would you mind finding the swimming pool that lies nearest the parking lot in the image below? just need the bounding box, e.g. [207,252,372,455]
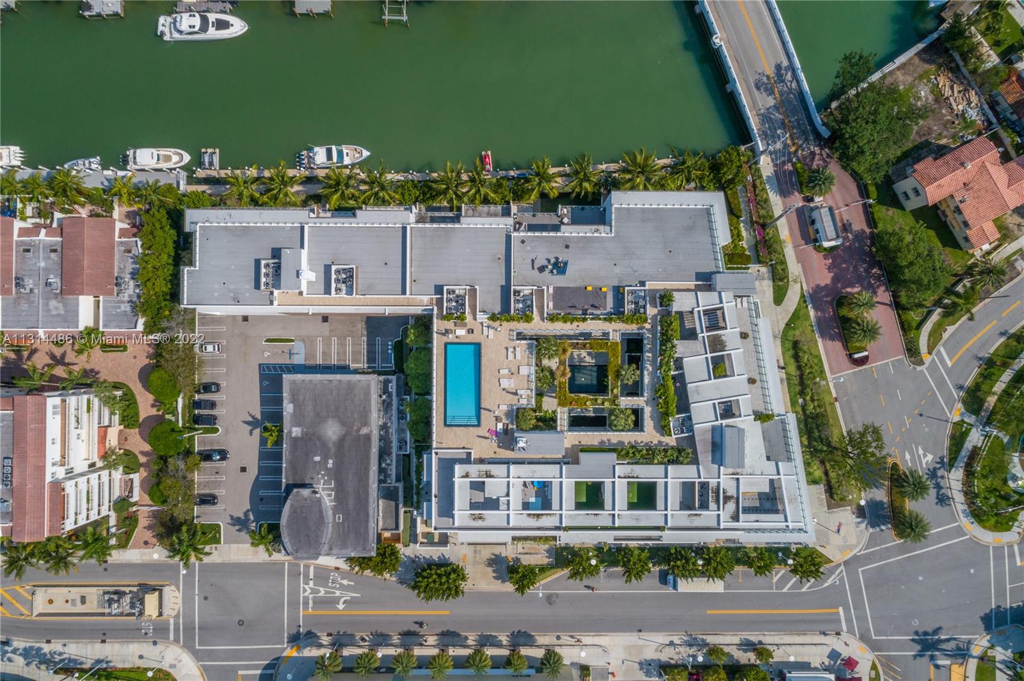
[444,342,480,427]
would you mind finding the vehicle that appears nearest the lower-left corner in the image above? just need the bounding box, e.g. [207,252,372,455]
[196,495,219,507]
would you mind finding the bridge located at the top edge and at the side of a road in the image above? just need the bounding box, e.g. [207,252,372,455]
[694,0,831,154]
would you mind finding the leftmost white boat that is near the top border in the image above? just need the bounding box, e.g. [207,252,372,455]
[158,12,248,41]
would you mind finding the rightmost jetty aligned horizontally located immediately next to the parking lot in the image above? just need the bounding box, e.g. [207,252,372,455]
[195,153,682,182]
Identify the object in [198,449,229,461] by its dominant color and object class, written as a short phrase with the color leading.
black vehicle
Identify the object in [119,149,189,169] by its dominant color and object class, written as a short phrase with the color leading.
white boat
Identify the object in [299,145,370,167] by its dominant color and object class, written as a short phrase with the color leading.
white boat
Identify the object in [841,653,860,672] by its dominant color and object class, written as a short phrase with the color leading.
red umbrella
